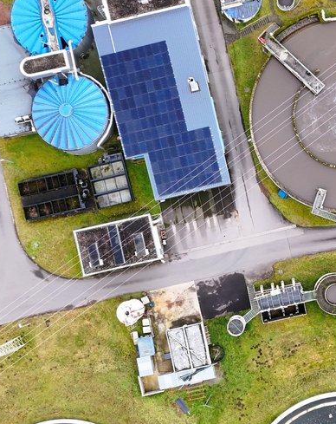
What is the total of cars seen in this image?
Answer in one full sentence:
The picture shows no cars.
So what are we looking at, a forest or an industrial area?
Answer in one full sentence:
What you see here is an industrial area.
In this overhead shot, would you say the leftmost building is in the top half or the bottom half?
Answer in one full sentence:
Seen from above, the leftmost building lies in the top half of the view.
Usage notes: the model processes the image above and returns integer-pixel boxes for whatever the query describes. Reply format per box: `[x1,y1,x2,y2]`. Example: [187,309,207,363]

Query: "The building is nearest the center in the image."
[74,215,165,276]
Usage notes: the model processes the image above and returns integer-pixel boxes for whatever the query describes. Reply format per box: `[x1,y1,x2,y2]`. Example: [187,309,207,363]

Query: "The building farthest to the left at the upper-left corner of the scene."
[17,41,80,81]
